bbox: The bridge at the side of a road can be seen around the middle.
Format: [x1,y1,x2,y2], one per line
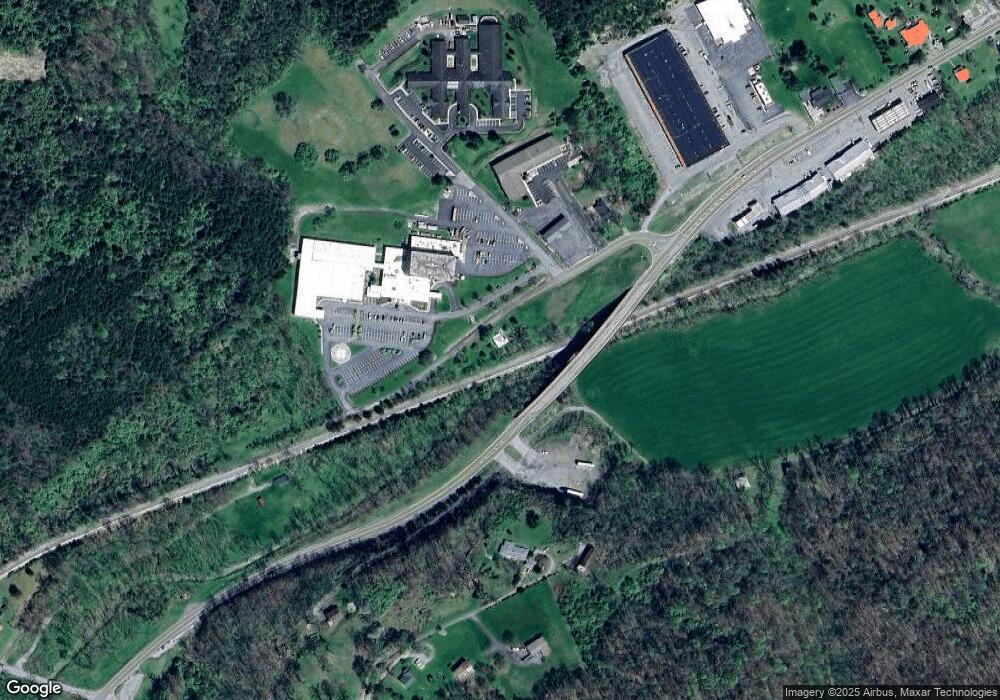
[505,277,651,439]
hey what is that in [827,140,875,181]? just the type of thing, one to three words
shed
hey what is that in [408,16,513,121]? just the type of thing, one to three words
building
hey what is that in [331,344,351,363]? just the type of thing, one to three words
helipad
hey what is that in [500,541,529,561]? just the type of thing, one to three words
house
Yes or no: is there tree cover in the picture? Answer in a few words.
Yes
